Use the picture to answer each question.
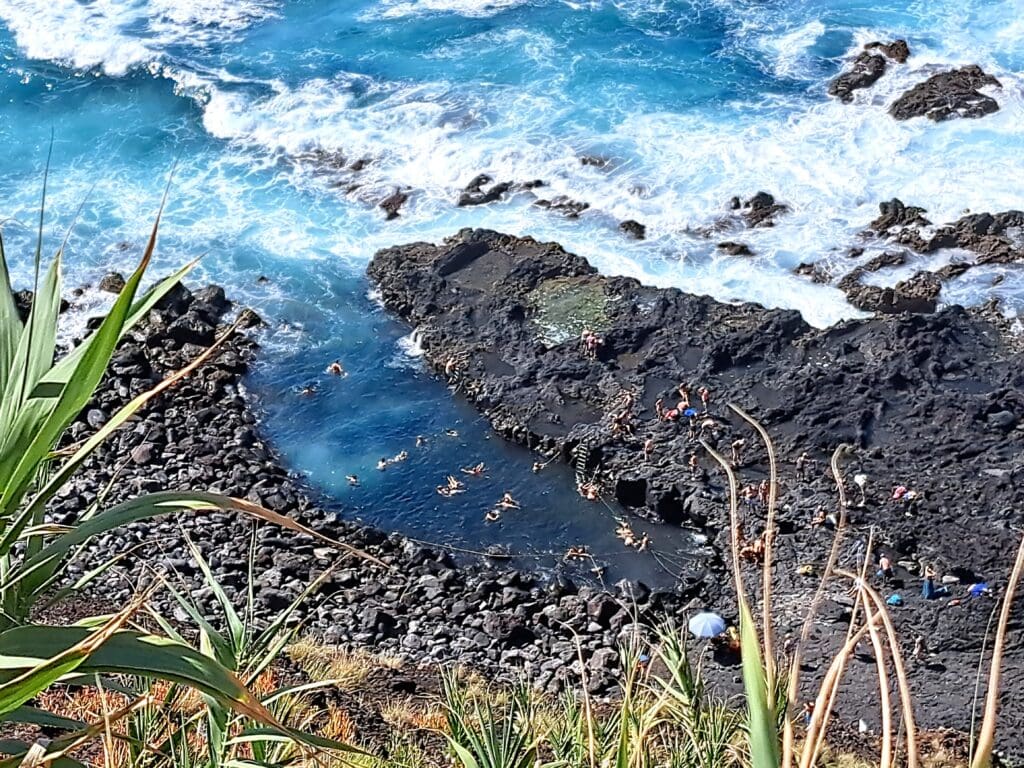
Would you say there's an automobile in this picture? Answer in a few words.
No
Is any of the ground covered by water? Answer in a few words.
Yes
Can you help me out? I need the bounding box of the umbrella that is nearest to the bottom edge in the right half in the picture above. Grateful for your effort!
[688,611,731,648]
